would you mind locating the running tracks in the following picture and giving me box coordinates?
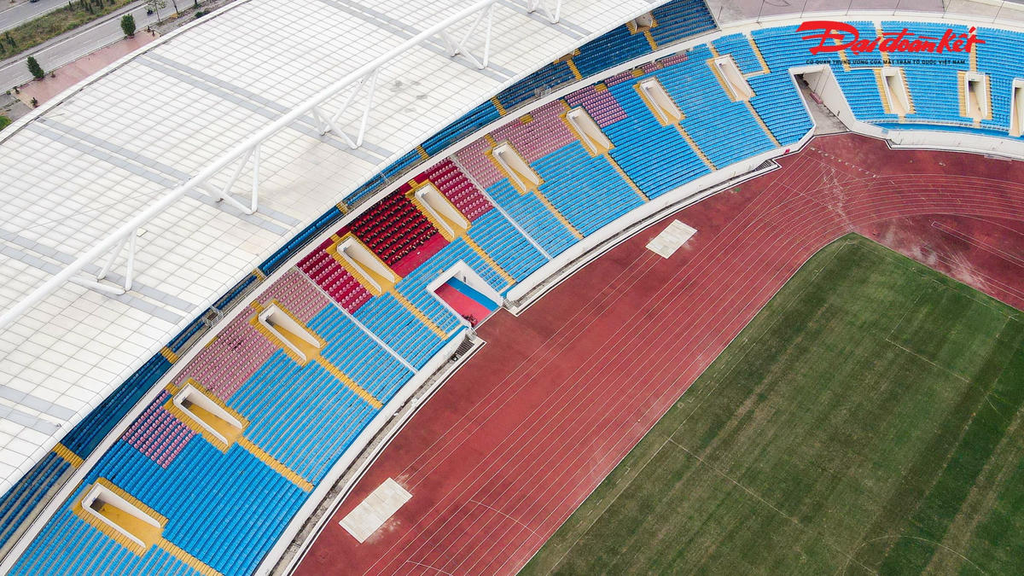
[281,134,1024,576]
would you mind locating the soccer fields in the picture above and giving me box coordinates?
[519,232,1024,576]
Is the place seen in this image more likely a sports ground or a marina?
sports ground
